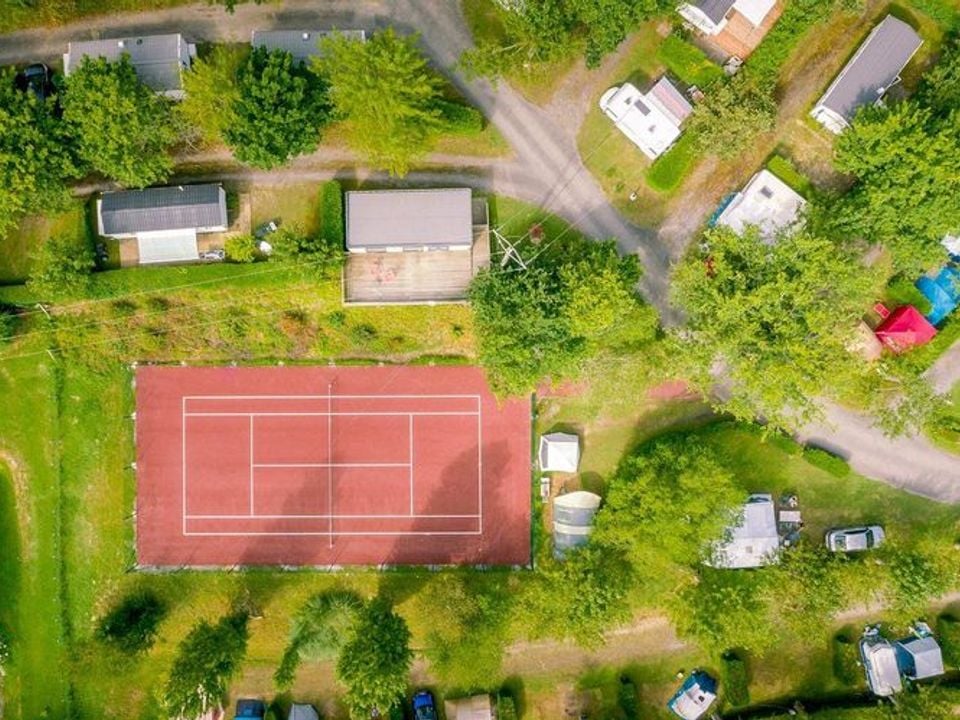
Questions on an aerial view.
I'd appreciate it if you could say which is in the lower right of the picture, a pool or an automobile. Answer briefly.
automobile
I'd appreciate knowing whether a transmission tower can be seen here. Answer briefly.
Yes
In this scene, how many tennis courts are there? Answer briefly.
1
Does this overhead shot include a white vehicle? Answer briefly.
Yes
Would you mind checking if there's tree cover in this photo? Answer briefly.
Yes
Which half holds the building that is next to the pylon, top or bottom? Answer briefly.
top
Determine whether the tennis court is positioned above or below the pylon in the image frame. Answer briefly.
below it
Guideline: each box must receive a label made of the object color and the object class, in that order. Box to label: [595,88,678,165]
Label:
white camper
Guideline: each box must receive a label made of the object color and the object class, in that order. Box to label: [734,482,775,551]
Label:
white van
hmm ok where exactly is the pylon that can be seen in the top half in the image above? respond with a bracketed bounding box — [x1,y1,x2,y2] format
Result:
[492,228,528,269]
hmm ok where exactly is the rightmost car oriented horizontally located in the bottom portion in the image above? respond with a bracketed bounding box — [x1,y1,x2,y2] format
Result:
[823,523,883,551]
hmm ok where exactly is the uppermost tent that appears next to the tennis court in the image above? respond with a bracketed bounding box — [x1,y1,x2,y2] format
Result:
[539,432,580,473]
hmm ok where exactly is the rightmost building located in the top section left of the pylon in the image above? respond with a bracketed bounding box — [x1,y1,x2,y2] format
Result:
[345,187,473,252]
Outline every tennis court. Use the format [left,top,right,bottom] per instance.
[135,366,532,569]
